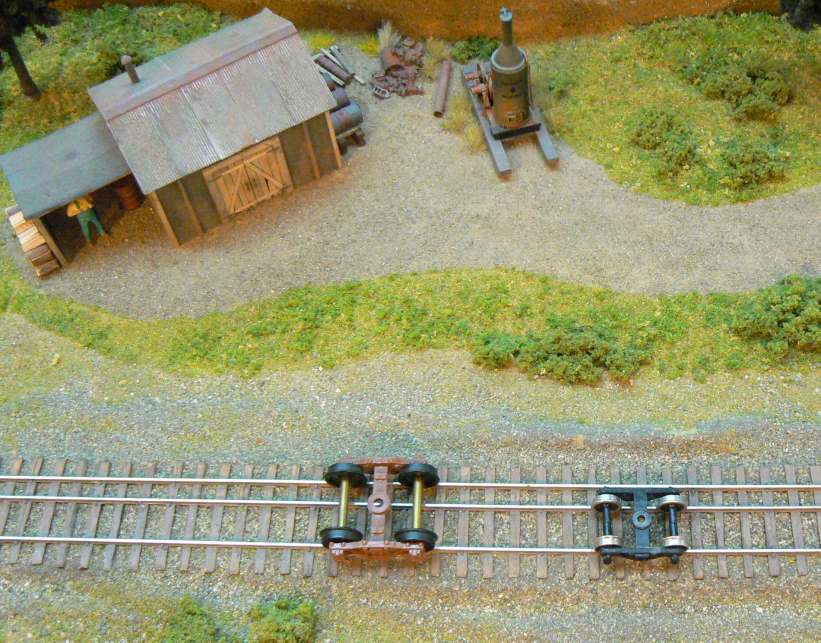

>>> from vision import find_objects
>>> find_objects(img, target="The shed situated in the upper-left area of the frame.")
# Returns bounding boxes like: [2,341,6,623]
[0,6,342,267]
